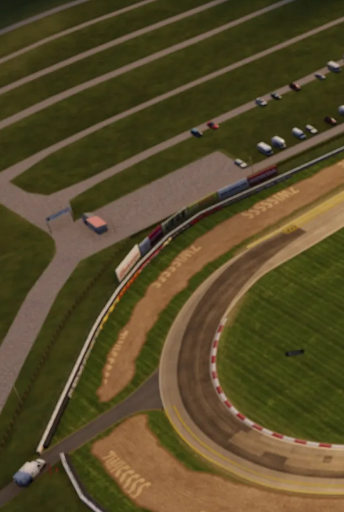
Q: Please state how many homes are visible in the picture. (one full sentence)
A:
There are no homes in this view.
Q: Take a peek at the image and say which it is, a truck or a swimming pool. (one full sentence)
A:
There is a truck in the scene.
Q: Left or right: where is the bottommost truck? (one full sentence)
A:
You can find the bottommost truck on the left side of the picture.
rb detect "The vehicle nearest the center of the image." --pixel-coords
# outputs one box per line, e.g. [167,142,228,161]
[82,214,104,233]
